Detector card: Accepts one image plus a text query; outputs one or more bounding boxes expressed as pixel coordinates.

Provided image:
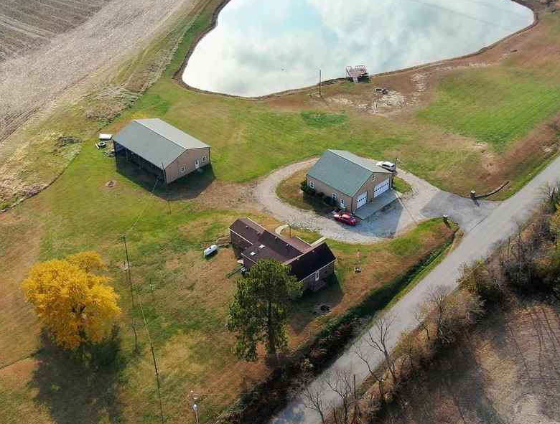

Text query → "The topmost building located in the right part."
[305,151,395,211]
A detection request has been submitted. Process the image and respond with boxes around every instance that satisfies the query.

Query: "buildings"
[227,217,337,291]
[111,120,212,184]
[305,151,395,211]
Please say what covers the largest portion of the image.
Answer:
grass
